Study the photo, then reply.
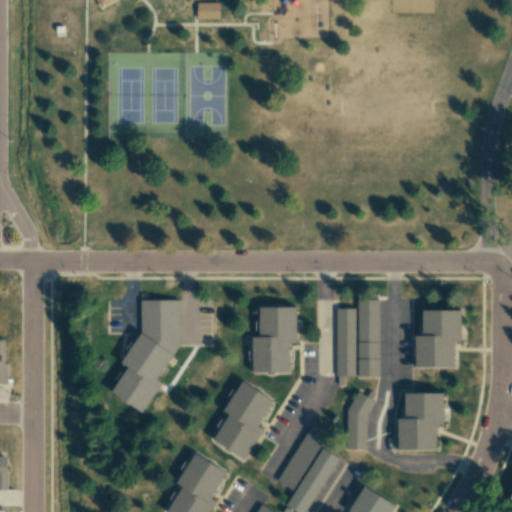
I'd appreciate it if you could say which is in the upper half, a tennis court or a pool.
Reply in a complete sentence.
There is a tennis court in the upper half.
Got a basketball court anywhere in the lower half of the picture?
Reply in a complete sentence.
No, I can find no basketball court in the lower half of the picture.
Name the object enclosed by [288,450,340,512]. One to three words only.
building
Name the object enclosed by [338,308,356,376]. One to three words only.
building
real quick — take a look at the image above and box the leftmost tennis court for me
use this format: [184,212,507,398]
[118,68,146,124]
